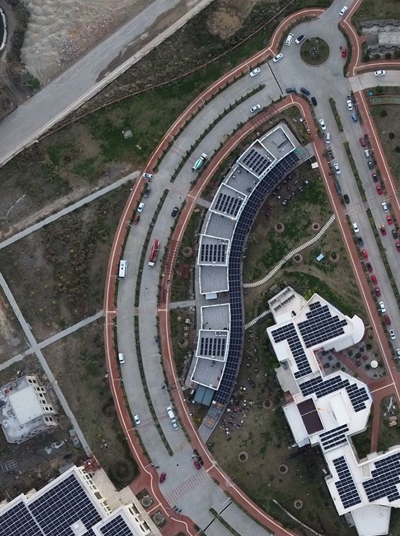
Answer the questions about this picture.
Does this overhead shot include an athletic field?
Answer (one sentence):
No, the photo shows no athletic field.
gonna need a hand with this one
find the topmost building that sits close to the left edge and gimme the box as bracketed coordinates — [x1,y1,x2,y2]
[0,376,57,443]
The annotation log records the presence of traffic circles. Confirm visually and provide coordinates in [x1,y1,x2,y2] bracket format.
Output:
[299,37,327,65]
